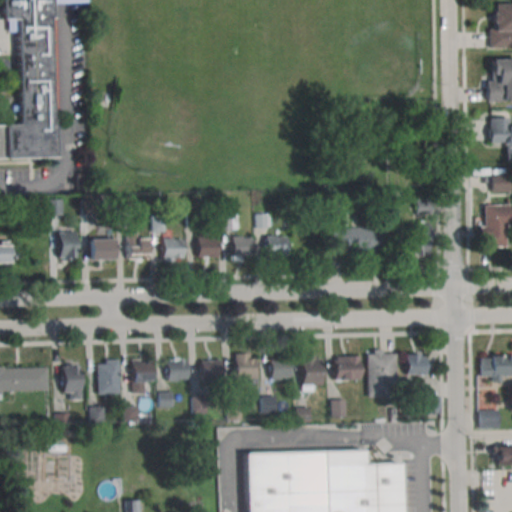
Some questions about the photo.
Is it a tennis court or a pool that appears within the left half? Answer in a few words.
pool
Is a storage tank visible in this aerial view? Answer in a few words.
No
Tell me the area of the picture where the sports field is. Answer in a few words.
top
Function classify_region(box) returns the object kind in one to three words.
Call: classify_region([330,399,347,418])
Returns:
building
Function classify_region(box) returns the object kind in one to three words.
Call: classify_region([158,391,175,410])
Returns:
building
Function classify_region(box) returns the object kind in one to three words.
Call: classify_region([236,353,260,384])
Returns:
house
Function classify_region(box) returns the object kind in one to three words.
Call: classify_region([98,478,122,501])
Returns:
swimming pool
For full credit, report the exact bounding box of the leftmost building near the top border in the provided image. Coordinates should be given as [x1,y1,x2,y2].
[0,0,90,158]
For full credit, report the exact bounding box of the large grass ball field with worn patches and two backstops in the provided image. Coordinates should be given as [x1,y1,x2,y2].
[91,0,434,192]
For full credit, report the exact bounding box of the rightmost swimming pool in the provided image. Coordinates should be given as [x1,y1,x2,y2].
[138,396,154,413]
